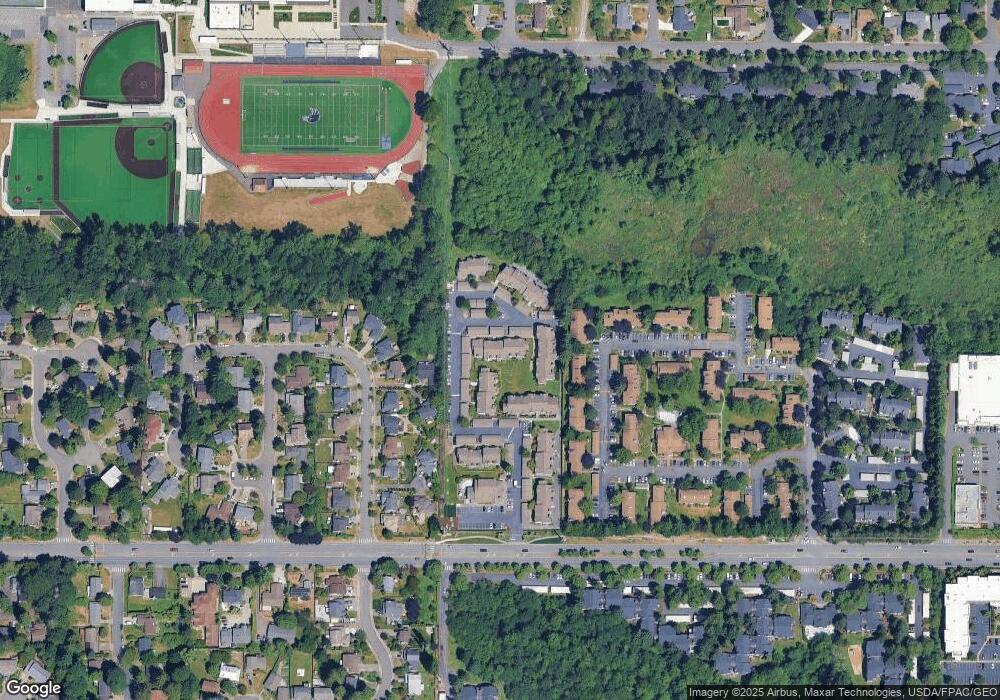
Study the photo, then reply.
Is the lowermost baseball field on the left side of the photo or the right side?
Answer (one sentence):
The lowermost baseball field is on the left side of the image.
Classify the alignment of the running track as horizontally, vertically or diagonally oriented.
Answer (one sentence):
The running track is oriented horizontally.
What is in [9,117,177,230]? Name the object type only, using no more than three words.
baseball field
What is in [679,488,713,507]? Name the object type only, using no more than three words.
building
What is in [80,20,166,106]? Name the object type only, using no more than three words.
baseball field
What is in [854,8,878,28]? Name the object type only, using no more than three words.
house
